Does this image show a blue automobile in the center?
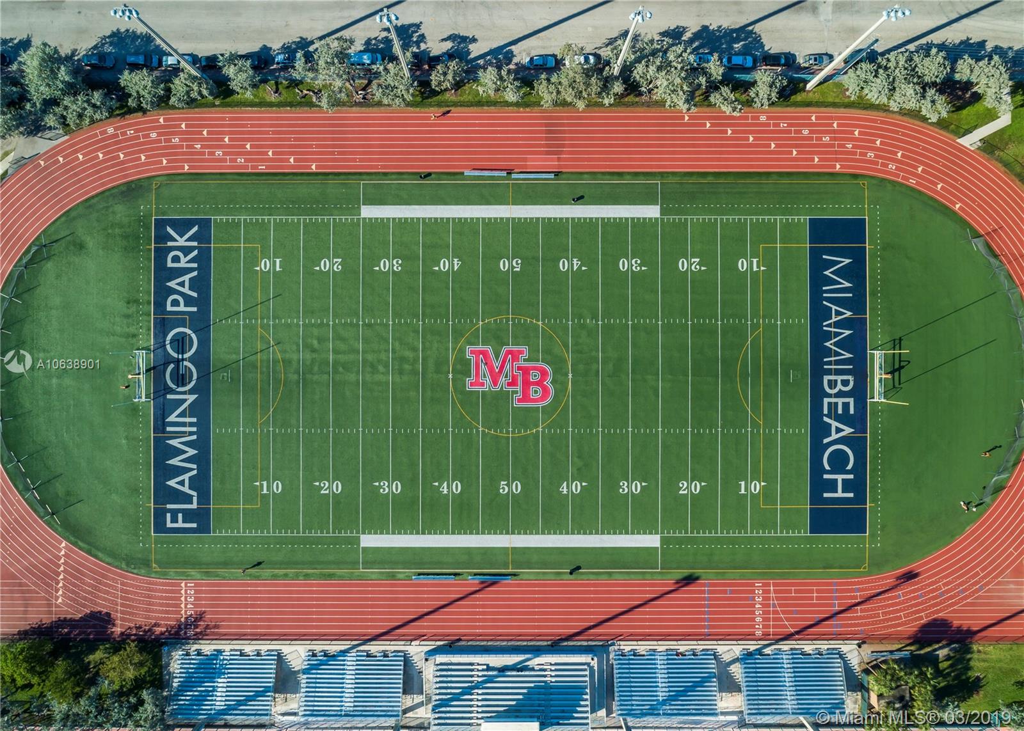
No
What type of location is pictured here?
sports ground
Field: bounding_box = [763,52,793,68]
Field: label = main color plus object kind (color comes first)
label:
black car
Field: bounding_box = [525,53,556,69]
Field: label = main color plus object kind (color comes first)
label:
blue car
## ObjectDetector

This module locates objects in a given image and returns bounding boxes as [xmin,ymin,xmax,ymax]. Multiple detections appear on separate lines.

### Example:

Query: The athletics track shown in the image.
[0,111,1024,641]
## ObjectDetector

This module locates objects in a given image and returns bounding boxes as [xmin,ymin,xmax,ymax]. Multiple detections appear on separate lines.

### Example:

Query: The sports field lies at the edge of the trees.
[0,172,1024,580]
